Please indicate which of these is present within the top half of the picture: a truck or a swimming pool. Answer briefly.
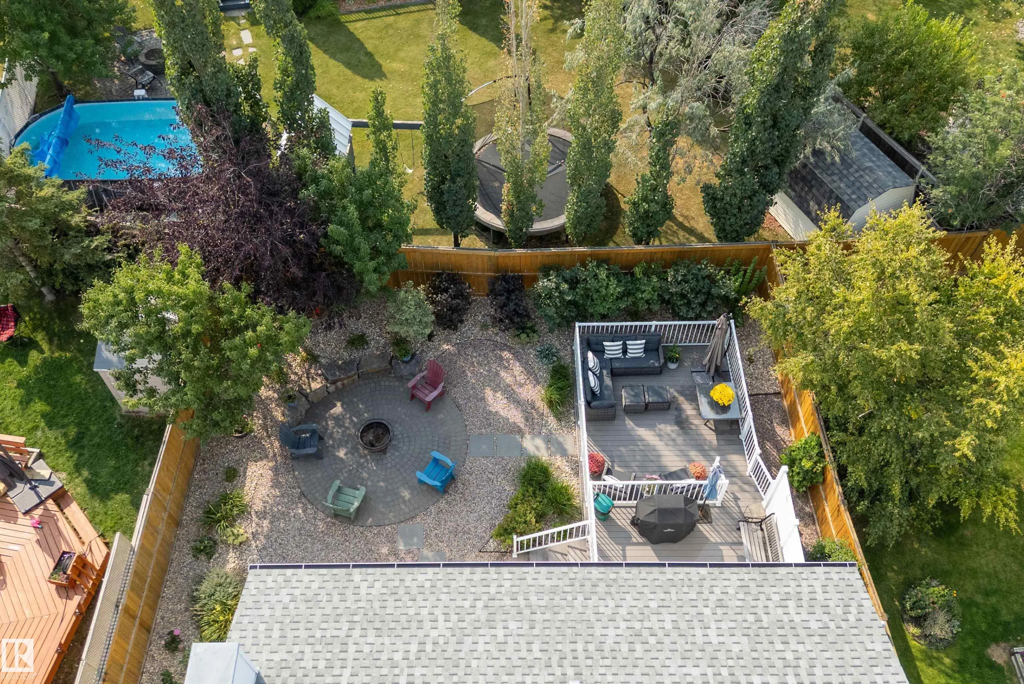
swimming pool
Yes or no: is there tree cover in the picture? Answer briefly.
Yes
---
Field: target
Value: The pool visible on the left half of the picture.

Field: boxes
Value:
[6,96,235,213]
